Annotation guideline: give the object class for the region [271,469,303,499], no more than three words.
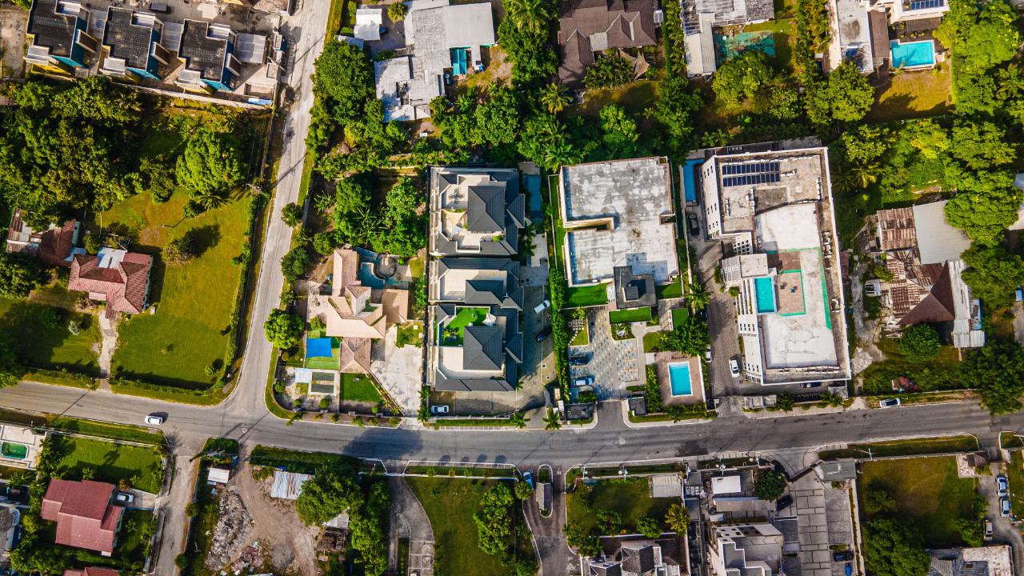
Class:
shed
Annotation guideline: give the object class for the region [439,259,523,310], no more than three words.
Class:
house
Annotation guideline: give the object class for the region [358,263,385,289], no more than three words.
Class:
swimming pool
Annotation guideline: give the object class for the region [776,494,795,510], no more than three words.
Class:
vehicle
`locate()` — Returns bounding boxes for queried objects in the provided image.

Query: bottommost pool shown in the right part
[668,361,693,397]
